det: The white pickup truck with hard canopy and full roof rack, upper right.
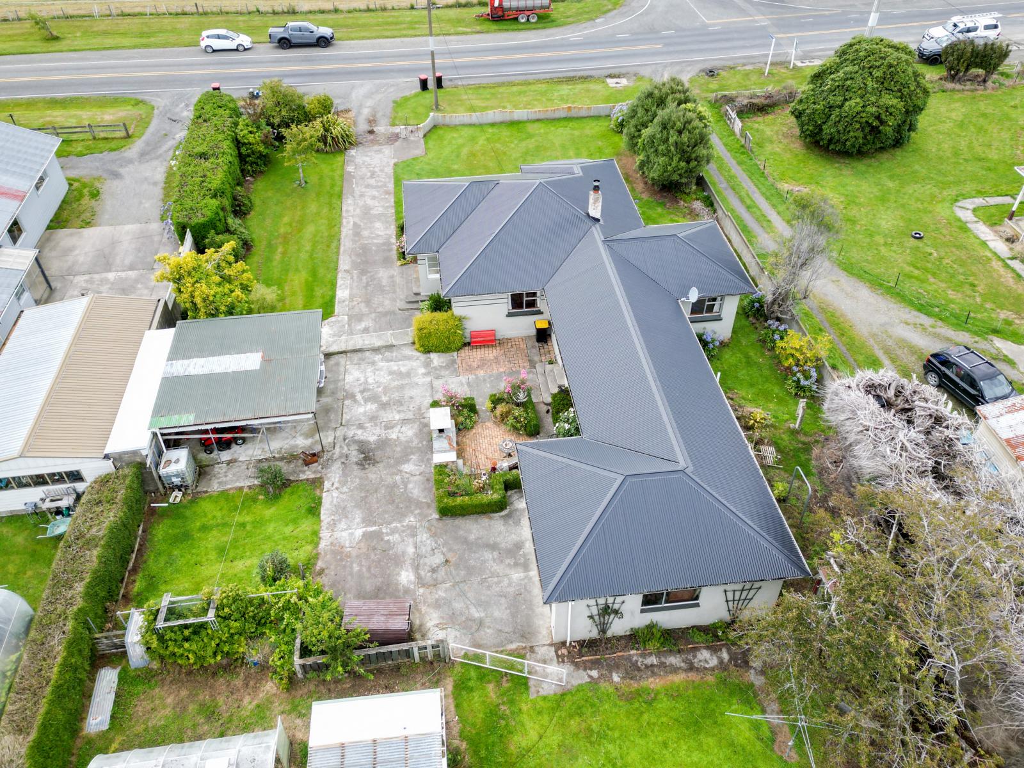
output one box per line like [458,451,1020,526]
[923,13,1002,43]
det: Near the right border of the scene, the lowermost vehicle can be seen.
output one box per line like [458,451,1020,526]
[917,341,1024,418]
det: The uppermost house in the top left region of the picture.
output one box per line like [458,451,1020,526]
[0,123,69,248]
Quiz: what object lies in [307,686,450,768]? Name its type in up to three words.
shed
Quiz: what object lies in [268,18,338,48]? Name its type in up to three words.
truck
